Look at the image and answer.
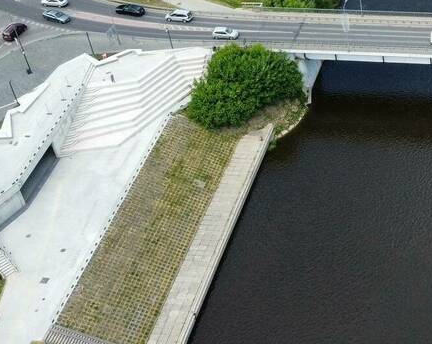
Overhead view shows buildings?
No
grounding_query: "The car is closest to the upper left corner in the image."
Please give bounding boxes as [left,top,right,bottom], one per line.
[0,25,27,41]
